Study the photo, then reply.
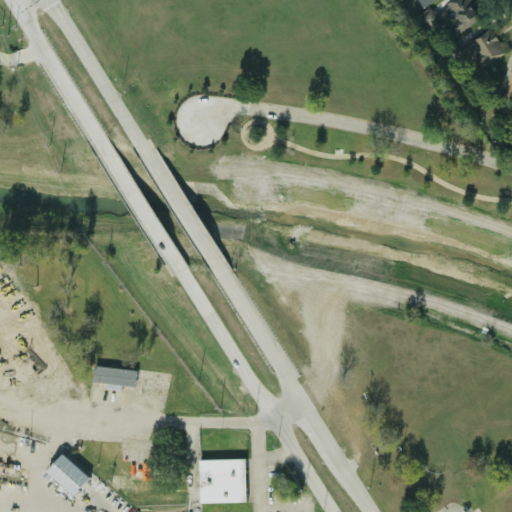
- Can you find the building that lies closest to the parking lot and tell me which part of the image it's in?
bottom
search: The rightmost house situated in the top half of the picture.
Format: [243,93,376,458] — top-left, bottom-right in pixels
[476,27,506,62]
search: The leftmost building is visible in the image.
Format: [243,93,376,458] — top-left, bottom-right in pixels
[46,454,89,496]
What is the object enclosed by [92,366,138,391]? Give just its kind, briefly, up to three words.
shed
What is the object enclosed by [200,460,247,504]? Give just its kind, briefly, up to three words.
building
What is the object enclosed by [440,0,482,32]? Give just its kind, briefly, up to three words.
house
